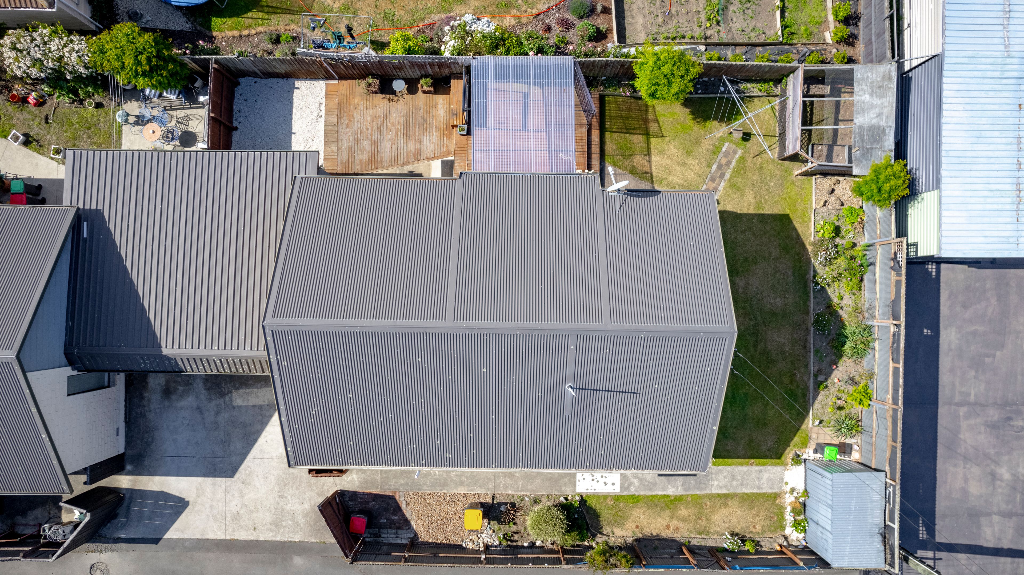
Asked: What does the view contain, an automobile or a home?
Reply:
home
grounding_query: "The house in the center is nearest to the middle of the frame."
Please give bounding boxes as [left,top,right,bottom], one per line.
[262,167,738,479]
